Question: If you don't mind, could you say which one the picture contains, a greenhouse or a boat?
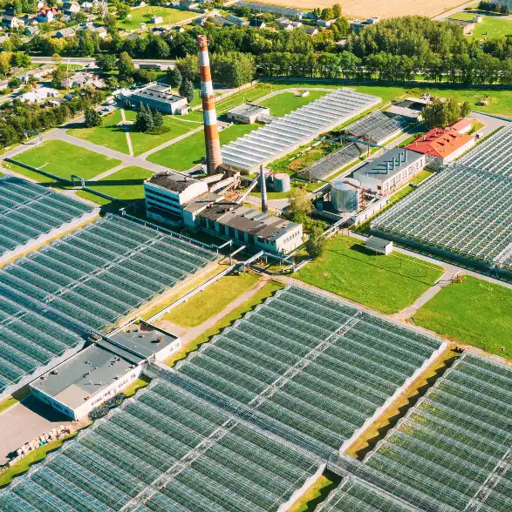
greenhouse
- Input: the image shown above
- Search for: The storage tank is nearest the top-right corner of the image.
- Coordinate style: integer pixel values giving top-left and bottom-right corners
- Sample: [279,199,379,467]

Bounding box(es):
[329,177,364,214]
